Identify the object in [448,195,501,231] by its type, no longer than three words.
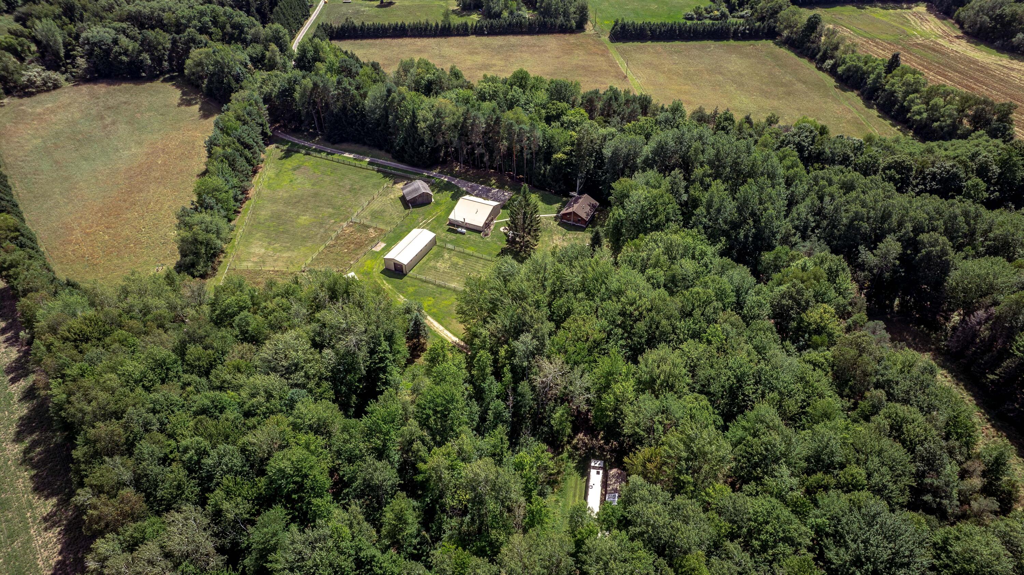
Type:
building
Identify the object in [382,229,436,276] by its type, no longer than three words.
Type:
shed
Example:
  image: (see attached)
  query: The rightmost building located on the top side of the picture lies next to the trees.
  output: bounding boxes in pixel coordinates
[560,194,599,227]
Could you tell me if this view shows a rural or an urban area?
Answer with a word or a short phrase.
rural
